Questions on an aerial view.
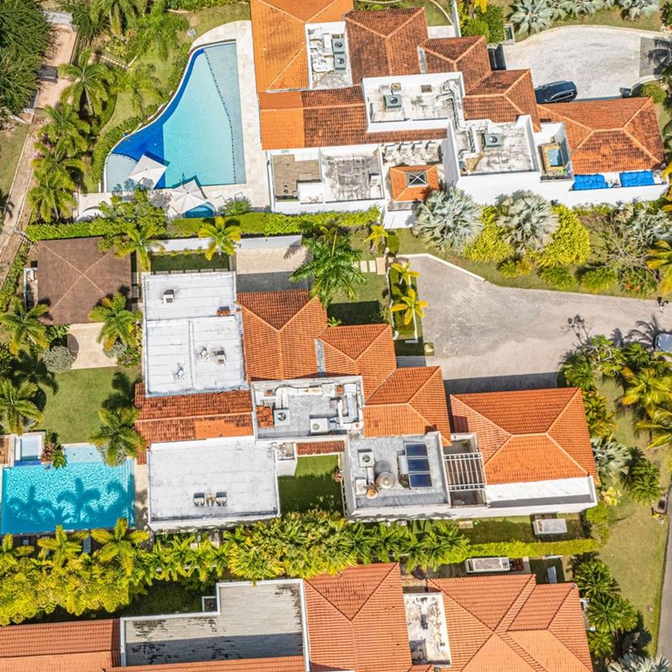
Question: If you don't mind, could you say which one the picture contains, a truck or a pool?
pool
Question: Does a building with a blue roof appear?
No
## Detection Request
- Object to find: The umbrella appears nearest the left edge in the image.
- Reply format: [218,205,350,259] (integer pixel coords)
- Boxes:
[127,159,168,192]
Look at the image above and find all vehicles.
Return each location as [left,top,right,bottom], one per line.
[534,80,581,104]
[651,332,672,357]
